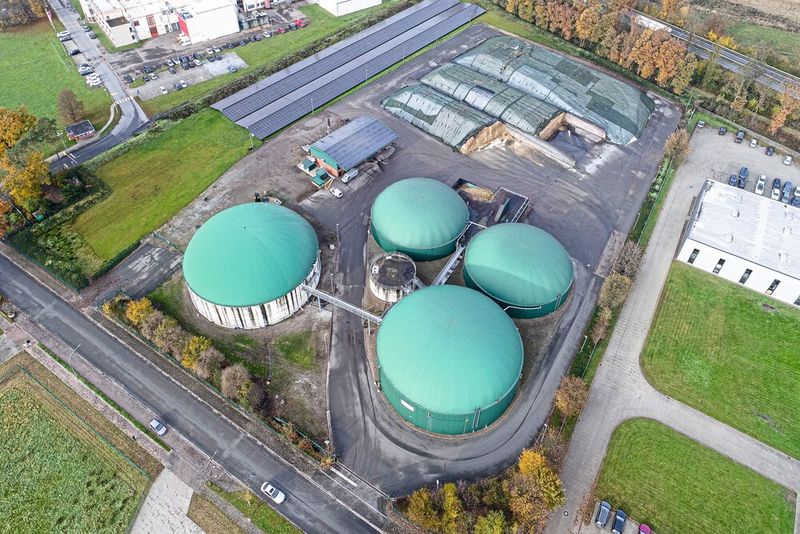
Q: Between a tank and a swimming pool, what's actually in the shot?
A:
tank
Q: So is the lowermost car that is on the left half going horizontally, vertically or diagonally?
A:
diagonally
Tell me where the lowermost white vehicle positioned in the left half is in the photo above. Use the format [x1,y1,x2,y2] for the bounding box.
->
[261,481,286,504]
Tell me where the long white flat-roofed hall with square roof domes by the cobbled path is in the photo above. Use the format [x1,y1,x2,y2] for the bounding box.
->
[672,179,800,304]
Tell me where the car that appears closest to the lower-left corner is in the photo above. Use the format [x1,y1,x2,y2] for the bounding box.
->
[148,419,167,436]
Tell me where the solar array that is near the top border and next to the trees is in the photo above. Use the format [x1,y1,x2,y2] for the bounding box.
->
[238,1,486,141]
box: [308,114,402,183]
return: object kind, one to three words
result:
building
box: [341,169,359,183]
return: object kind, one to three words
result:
vehicle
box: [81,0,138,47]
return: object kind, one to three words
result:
building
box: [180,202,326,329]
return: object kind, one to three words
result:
storage tank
